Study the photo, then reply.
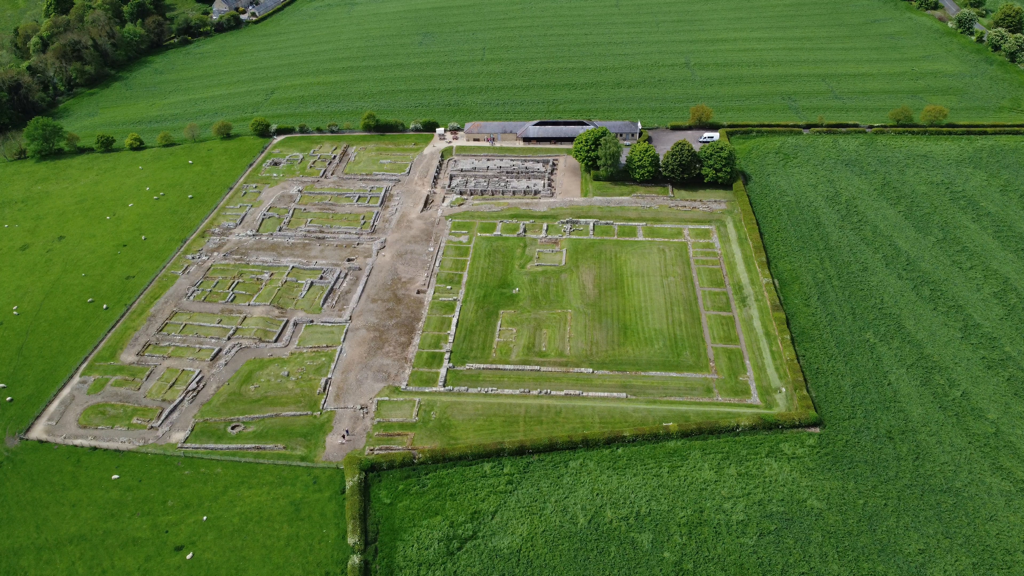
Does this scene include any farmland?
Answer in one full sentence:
Yes, the picture does contain farmland.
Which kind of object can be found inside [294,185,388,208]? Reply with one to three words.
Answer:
building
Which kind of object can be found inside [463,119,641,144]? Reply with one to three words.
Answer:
building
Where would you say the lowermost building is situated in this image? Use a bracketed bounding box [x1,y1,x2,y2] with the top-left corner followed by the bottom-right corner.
[365,431,437,455]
